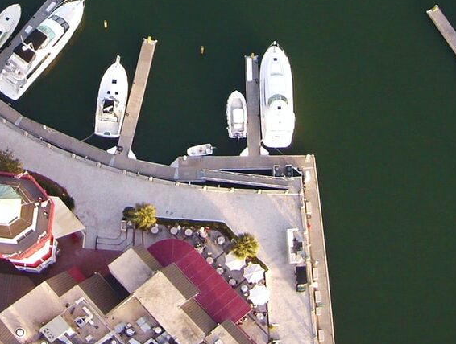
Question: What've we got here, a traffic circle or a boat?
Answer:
boat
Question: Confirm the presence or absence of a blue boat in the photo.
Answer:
No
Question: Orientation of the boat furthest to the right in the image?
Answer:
up and down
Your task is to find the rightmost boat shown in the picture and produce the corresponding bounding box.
[259,38,292,153]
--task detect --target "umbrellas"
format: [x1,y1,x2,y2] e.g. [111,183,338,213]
[241,259,265,285]
[247,281,270,308]
[222,250,244,276]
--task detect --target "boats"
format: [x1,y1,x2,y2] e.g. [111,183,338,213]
[259,38,292,153]
[96,54,128,141]
[227,93,247,144]
[0,0,83,105]
[189,145,217,158]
